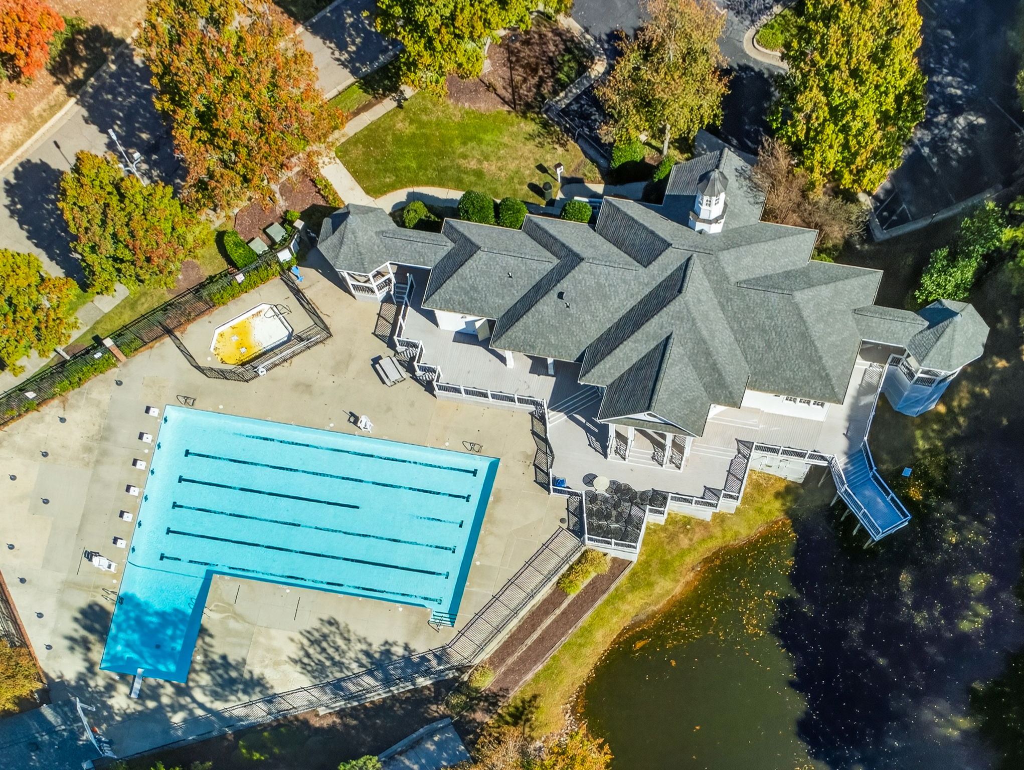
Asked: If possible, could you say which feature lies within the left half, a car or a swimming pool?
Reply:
swimming pool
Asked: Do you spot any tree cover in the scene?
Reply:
Yes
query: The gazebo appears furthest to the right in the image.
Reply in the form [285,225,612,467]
[881,299,990,419]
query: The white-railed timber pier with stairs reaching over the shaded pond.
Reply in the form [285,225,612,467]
[828,437,912,552]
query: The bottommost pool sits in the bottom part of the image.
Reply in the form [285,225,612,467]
[100,405,500,683]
